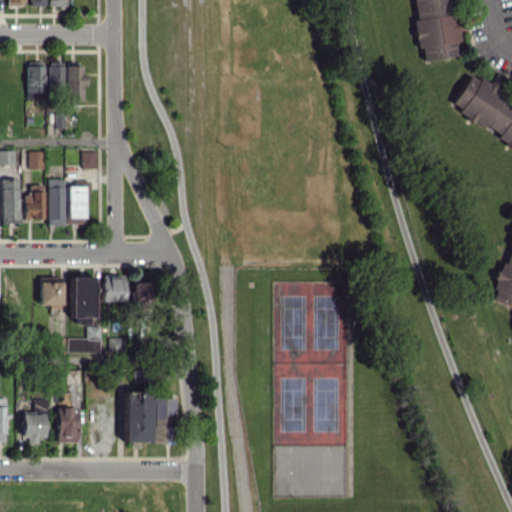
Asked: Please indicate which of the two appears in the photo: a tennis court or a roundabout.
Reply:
tennis court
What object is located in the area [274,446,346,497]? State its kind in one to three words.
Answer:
sports court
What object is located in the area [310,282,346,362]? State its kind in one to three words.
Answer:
tennis court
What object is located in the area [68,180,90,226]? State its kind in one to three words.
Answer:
building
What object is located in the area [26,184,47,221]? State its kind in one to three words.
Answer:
house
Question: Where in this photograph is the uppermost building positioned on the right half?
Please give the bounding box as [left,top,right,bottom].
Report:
[416,0,464,62]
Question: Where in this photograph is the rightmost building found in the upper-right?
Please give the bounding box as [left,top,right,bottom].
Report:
[454,76,512,146]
